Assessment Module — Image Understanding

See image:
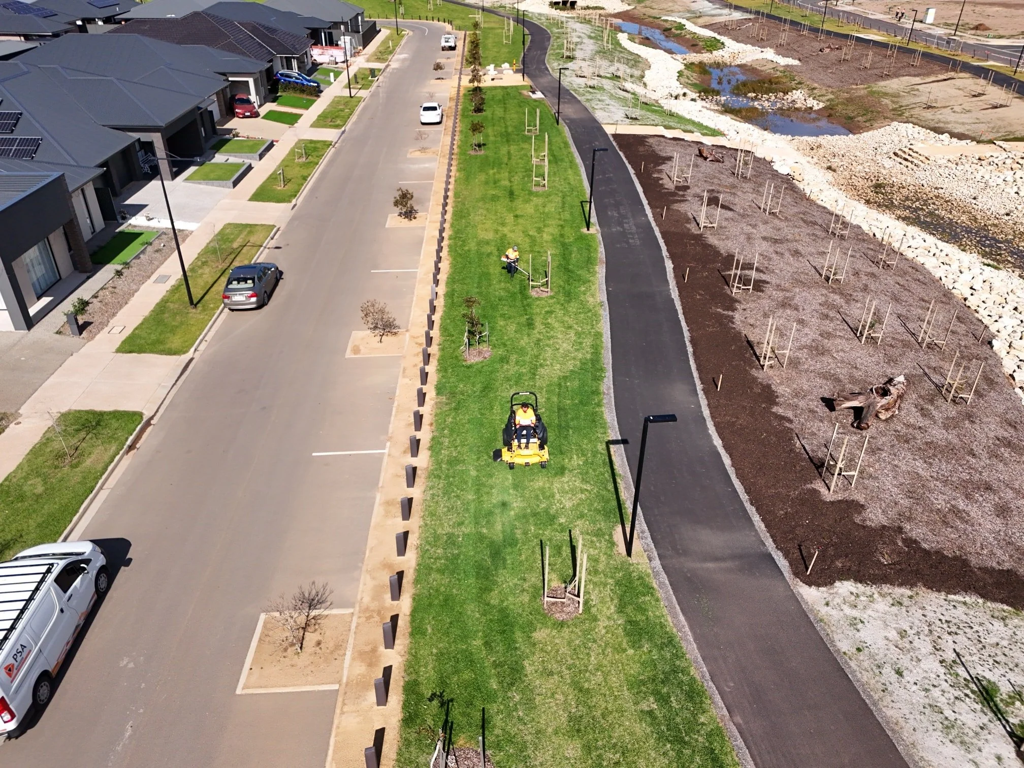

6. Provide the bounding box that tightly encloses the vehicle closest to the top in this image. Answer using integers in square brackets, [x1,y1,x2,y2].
[440,30,460,48]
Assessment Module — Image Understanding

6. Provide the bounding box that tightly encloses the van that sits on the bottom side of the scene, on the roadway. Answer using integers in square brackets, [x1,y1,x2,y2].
[0,545,107,738]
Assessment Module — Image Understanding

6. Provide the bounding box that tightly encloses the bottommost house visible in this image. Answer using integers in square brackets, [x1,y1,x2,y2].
[0,156,108,329]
